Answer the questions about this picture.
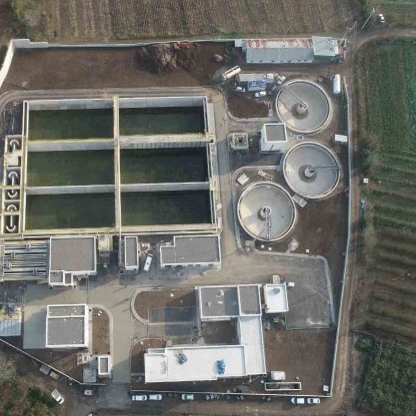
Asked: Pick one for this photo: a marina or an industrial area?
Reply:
industrial area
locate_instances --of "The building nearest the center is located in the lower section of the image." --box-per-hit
[160,236,221,268]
